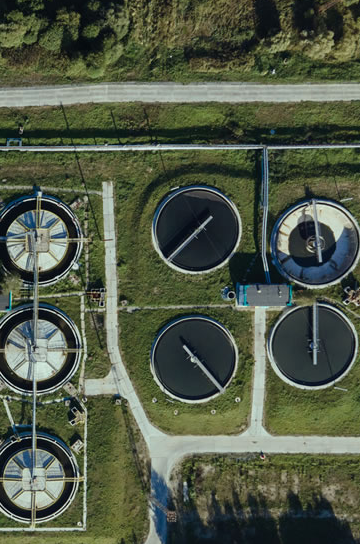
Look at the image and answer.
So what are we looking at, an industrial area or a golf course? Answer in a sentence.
This looks like an industrial area.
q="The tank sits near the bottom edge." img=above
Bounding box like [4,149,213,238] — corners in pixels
[0,432,84,529]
